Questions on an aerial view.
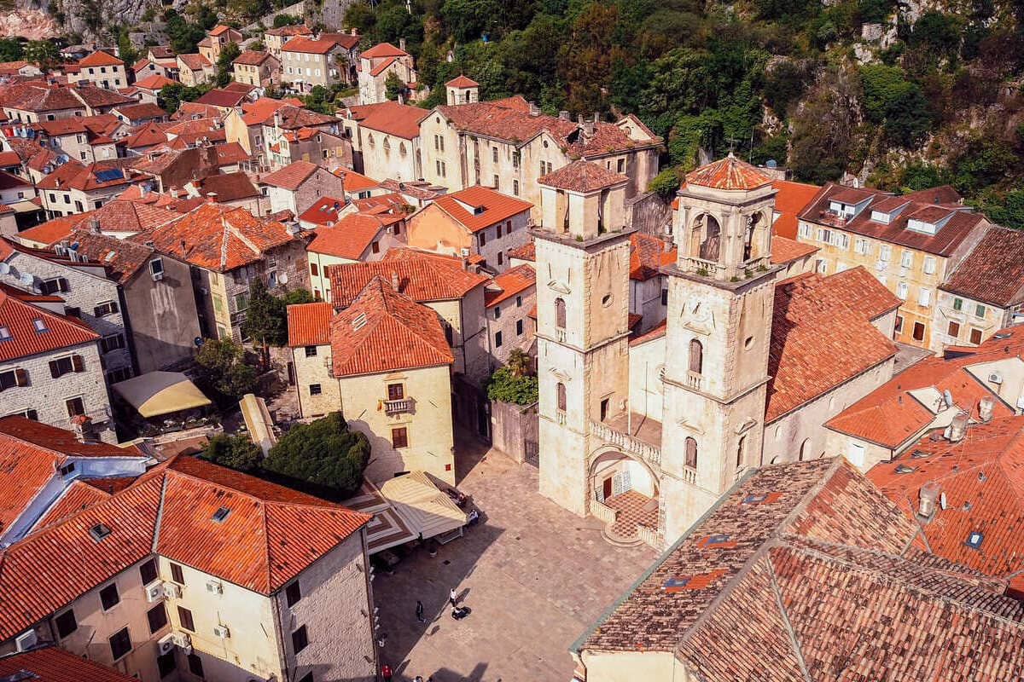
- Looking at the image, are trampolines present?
No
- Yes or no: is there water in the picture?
No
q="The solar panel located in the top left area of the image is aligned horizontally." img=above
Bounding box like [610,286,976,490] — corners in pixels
[89,165,129,183]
